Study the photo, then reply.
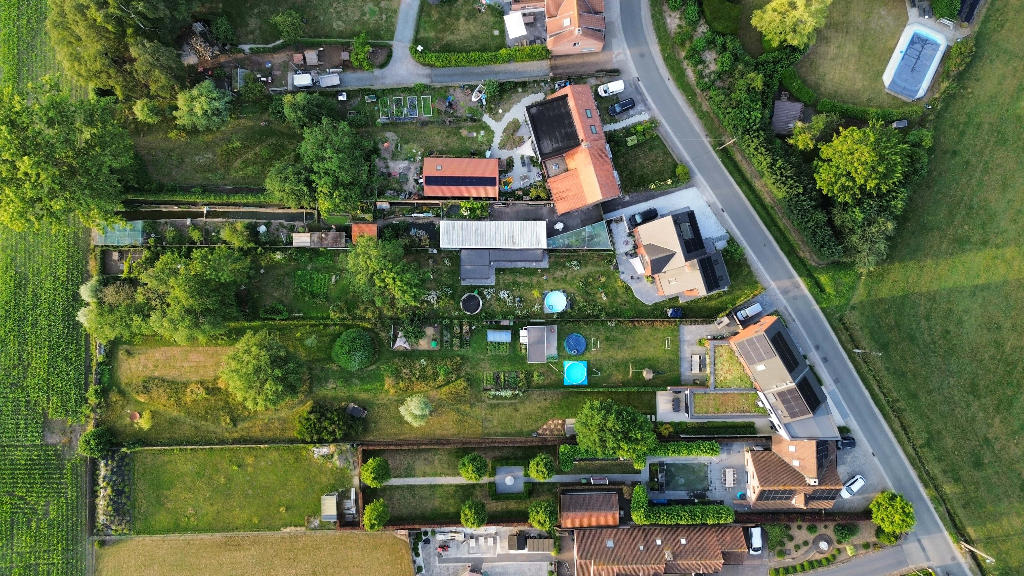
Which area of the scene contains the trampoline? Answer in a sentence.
The trampoline sits in the center section of the image.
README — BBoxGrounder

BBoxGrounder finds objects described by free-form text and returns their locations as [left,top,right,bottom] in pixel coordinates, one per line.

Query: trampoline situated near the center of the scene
[460,292,482,314]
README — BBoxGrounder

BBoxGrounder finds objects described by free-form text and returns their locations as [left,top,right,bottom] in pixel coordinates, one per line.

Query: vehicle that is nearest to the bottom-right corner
[840,474,866,498]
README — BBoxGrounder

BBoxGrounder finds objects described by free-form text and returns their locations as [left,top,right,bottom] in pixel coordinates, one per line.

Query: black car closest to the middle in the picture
[628,207,659,226]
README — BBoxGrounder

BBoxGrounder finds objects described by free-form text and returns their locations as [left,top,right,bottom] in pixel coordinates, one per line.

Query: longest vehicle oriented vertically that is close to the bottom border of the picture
[747,523,763,556]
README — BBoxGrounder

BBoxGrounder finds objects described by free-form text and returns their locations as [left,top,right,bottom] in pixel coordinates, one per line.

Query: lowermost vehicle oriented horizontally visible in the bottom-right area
[832,436,860,450]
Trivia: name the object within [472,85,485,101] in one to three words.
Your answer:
boat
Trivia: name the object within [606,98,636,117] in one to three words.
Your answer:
car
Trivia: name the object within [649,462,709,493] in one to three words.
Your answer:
pond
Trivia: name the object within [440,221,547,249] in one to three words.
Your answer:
shed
